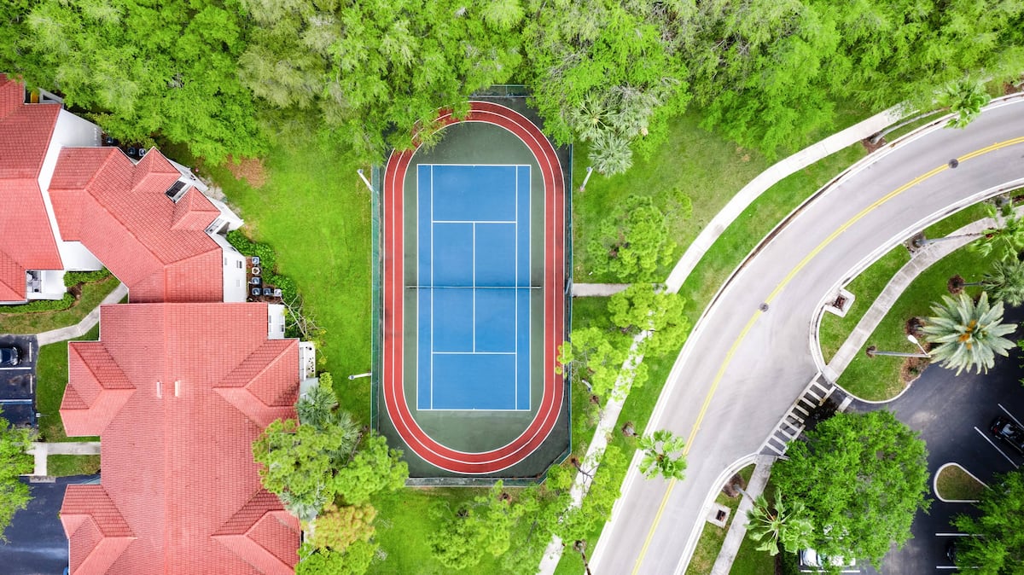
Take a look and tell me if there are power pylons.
No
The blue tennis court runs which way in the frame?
up and down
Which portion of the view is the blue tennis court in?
center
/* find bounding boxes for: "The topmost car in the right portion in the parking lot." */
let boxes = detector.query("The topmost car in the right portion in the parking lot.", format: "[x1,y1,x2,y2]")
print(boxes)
[996,422,1024,461]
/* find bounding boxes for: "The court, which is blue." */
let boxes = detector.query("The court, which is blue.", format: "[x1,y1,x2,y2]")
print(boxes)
[417,164,531,411]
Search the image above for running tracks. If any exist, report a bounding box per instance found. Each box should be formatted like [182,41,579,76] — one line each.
[384,101,564,474]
